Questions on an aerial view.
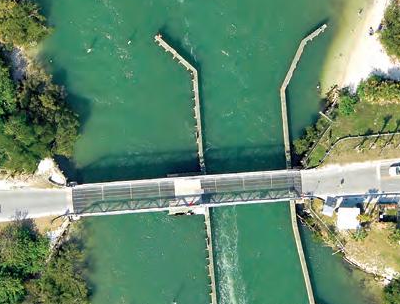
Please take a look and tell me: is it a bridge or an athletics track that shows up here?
bridge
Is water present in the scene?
Yes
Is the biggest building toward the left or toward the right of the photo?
right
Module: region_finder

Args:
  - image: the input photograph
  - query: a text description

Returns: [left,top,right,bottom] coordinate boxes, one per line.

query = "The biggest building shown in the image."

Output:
[336,207,359,228]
